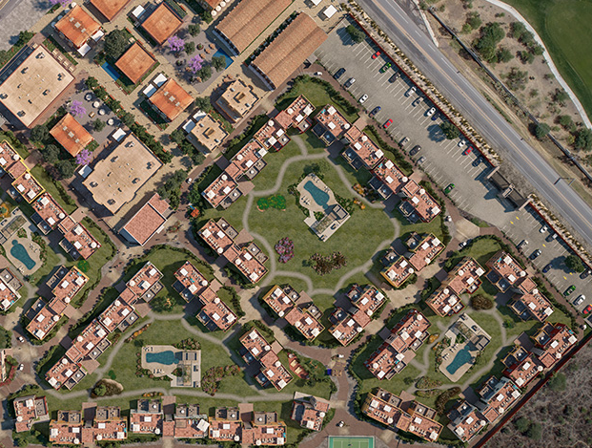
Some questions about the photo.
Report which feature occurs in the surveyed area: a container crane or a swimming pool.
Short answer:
swimming pool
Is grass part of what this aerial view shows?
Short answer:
Yes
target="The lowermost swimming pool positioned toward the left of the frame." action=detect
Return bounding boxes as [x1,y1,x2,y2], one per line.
[140,340,201,389]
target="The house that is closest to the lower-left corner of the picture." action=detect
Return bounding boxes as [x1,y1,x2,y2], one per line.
[13,392,49,431]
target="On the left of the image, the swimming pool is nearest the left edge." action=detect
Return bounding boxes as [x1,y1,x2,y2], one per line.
[0,208,45,277]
